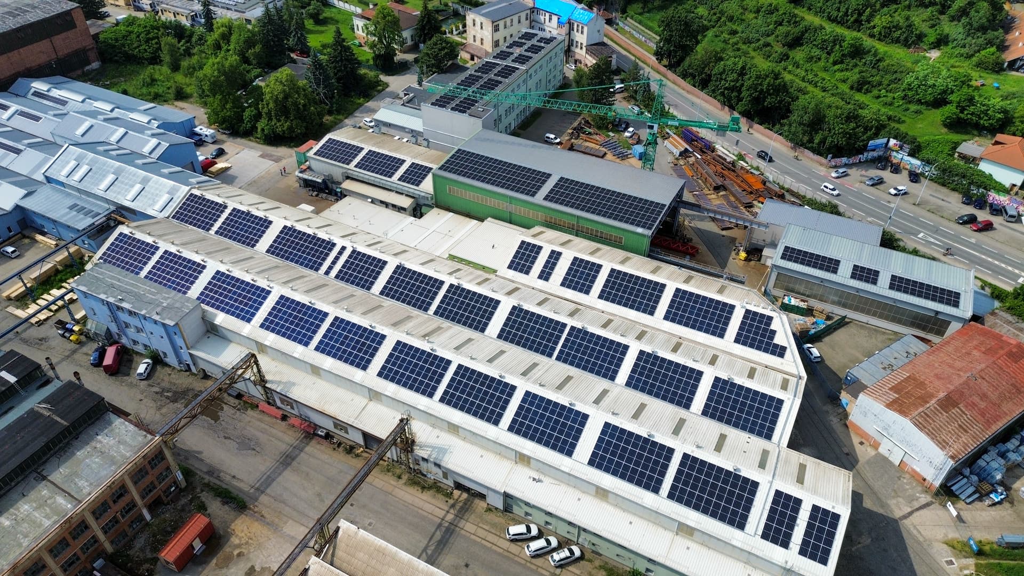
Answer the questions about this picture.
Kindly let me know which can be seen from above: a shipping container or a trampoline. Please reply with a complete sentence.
The image shows a shipping container.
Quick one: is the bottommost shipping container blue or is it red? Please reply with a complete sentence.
In this view, the bottommost shipping container is red.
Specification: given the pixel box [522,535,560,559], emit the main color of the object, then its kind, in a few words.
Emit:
white car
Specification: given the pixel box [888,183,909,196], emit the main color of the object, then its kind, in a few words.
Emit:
white vehicle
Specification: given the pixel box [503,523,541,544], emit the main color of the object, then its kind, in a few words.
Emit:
white car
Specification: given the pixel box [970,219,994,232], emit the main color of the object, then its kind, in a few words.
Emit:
red vehicle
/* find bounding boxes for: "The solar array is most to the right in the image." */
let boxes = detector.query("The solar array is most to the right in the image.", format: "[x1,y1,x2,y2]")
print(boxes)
[889,274,962,309]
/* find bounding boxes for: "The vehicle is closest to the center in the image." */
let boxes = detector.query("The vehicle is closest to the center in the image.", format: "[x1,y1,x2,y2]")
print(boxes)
[543,132,561,144]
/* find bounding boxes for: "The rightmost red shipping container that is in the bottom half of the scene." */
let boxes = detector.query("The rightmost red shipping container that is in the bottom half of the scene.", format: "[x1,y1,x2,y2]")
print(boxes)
[154,509,218,572]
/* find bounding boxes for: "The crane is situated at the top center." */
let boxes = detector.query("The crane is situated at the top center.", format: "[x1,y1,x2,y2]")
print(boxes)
[427,84,738,174]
